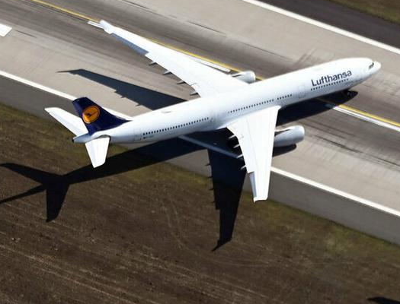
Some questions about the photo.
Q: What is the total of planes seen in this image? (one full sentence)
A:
My tally gives 1 plane in this photo.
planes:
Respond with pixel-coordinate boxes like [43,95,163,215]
[45,20,380,203]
